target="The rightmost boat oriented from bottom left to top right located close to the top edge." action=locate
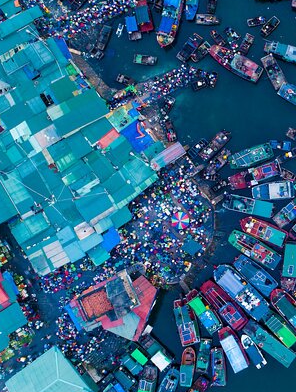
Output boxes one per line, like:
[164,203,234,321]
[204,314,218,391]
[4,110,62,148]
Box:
[260,15,280,36]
